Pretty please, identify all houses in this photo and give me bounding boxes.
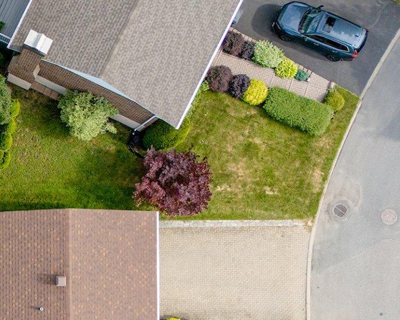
[0,209,162,320]
[0,0,241,130]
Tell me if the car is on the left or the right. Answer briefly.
right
